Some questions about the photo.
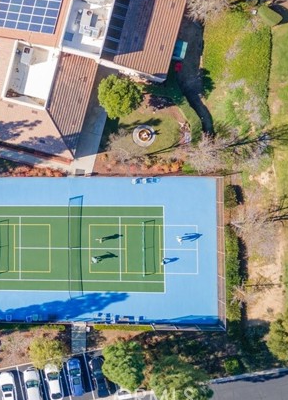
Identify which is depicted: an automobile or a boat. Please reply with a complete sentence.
It is an automobile that can be seen here.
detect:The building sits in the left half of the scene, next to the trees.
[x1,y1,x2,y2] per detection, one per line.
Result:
[0,0,188,167]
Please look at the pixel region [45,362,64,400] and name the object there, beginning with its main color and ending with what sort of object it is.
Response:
white car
